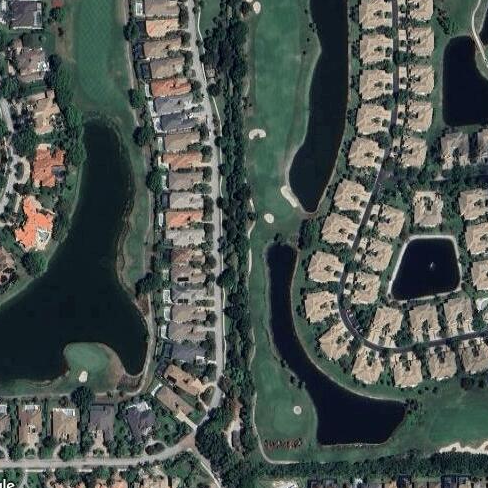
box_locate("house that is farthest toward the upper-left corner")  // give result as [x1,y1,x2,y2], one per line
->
[6,0,49,25]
